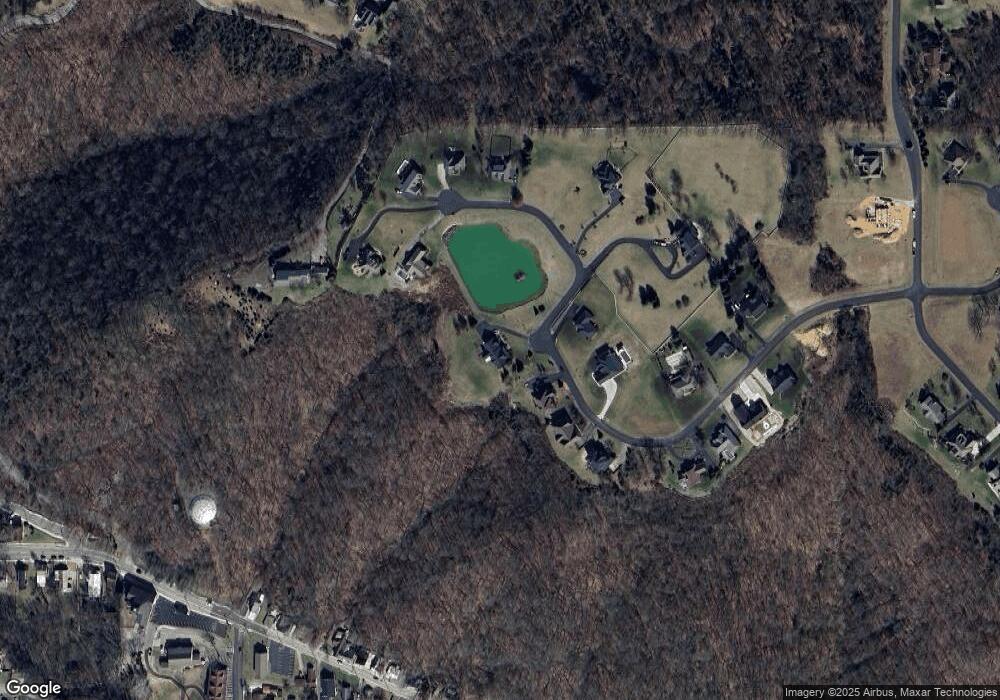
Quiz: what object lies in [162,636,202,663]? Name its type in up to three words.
building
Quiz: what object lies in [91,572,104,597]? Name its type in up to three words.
building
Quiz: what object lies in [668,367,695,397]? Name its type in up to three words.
house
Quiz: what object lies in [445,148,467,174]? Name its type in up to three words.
house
